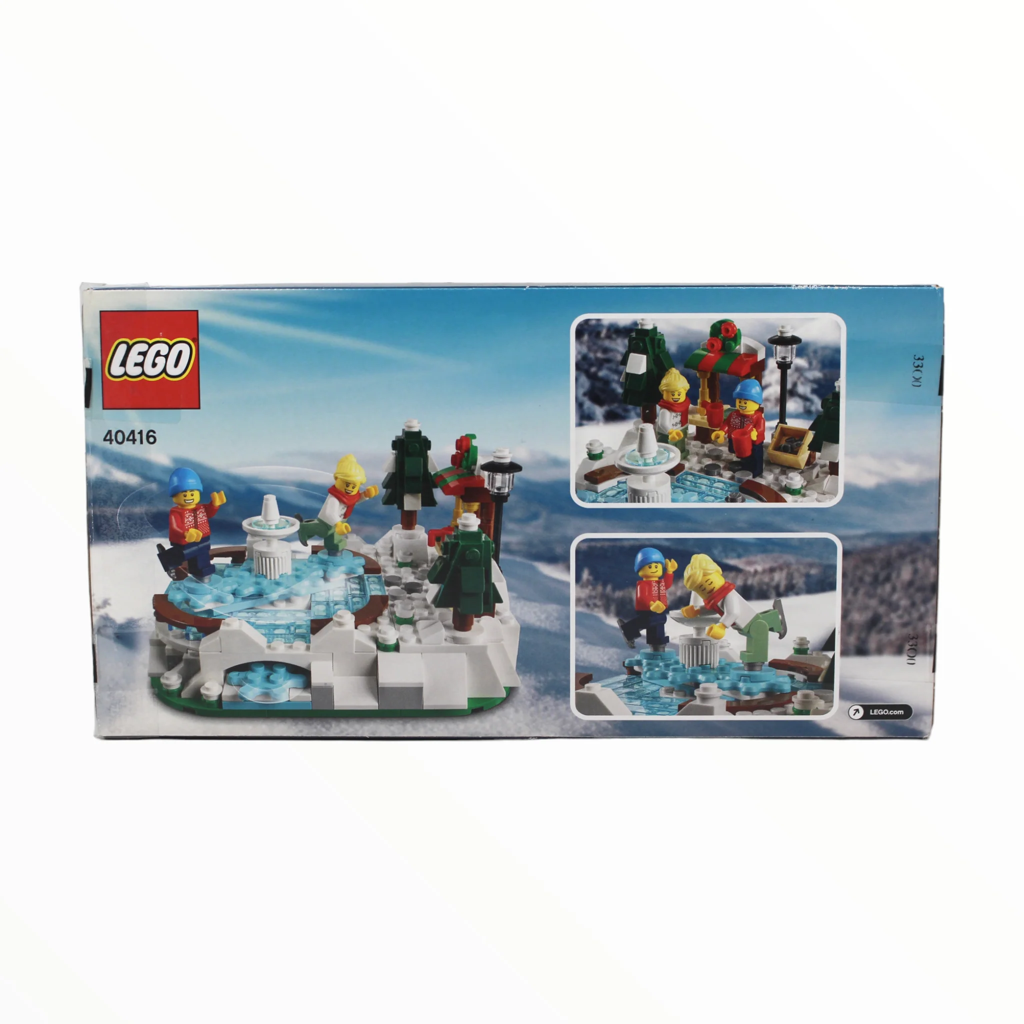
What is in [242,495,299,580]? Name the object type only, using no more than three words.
fountain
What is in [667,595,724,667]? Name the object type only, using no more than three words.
fountain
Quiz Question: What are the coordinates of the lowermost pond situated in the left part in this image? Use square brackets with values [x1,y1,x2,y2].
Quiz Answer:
[165,546,386,709]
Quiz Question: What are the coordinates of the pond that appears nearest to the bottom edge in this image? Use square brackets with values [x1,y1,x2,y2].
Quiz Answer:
[606,649,833,716]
